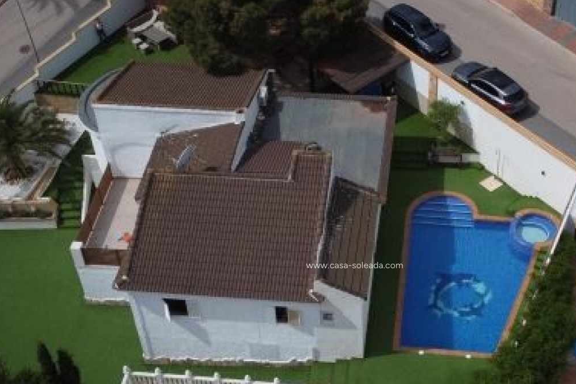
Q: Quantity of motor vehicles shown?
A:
2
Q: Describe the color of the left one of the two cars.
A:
black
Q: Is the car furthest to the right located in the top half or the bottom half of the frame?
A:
top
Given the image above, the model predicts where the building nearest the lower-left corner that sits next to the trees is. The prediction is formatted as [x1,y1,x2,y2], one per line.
[66,63,395,356]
